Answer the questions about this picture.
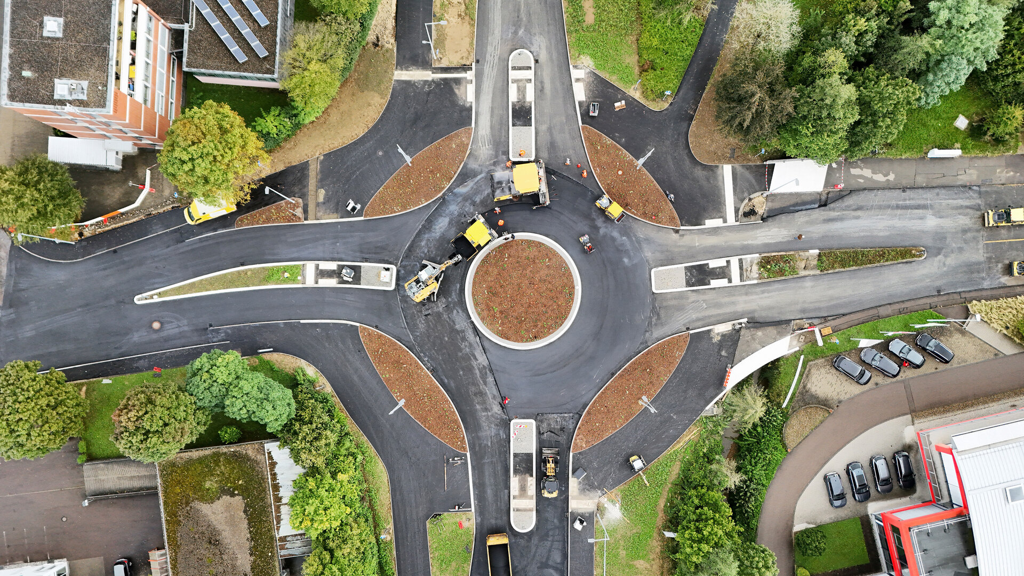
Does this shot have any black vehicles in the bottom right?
Yes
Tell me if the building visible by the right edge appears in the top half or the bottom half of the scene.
bottom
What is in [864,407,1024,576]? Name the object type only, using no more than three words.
building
